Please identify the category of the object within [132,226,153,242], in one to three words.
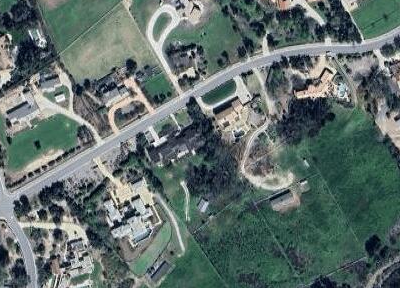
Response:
swimming pool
